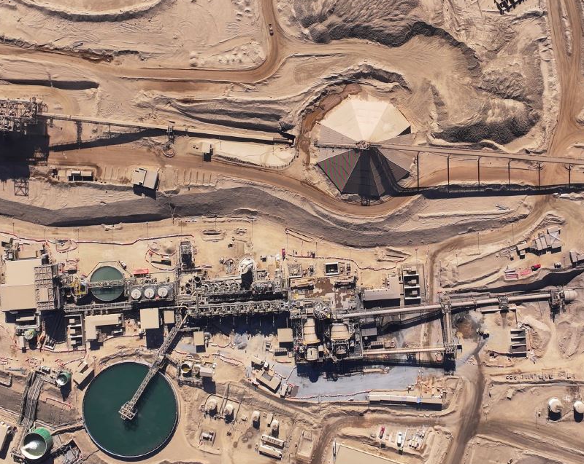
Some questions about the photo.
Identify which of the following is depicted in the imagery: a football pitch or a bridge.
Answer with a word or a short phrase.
bridge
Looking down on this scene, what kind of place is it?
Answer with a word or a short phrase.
industrial area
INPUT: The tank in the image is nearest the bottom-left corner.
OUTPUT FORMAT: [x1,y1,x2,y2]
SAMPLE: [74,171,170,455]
[20,429,52,459]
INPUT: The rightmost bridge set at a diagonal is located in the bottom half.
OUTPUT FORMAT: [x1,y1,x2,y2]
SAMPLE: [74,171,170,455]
[128,320,188,410]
